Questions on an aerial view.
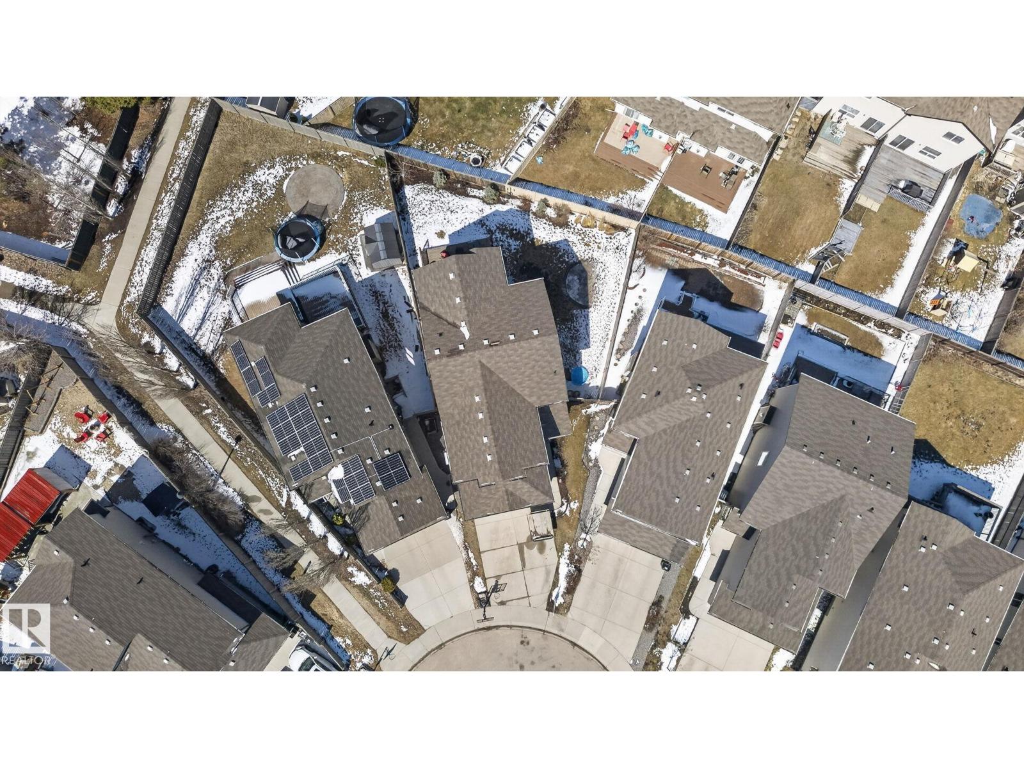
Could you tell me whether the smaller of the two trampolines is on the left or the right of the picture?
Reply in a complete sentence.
The smaller of the two trampolines appears in the left half of the scene.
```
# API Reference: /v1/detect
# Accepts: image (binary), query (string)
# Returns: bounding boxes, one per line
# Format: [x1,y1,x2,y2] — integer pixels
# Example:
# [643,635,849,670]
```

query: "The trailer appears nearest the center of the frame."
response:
[527,509,554,541]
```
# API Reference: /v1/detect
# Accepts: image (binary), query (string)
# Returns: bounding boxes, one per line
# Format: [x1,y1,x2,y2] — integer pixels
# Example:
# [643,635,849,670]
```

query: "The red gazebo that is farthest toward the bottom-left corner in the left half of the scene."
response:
[0,503,41,562]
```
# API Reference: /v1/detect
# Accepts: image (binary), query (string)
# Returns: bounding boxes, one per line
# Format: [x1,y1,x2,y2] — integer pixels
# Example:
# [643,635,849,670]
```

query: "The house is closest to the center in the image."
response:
[412,246,574,520]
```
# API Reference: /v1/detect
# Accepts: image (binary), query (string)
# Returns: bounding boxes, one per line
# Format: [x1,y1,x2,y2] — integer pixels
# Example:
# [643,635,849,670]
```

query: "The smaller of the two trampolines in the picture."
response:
[269,205,326,266]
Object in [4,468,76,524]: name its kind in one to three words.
gazebo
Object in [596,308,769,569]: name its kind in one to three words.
house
